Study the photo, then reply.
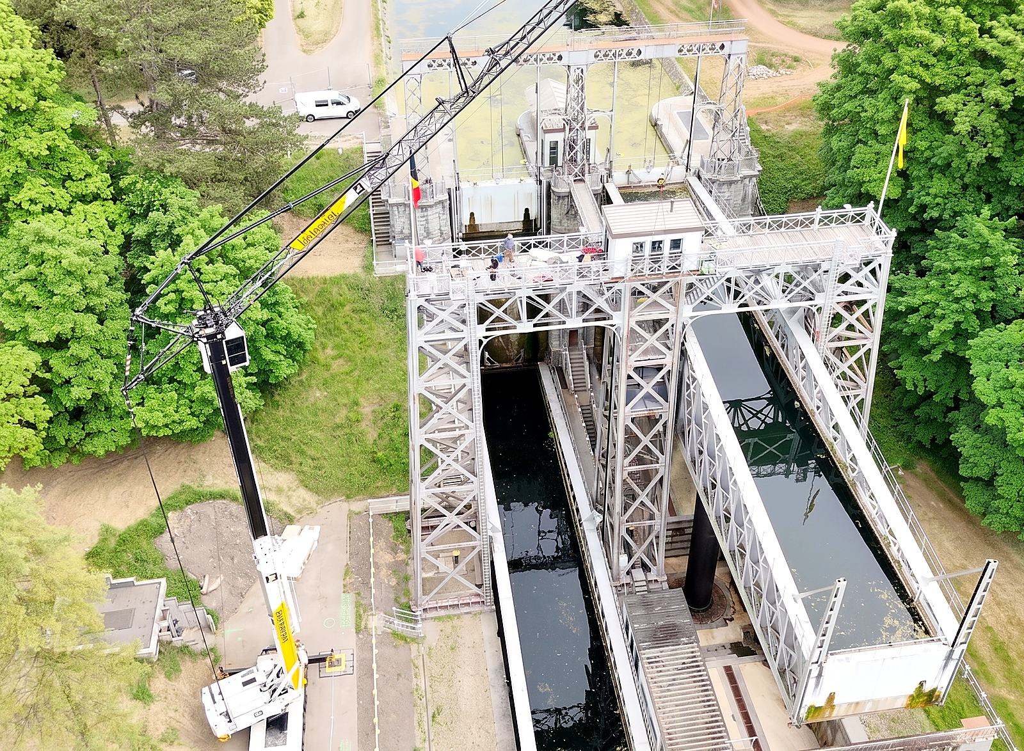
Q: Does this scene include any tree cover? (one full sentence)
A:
Yes, some tree cover is visible.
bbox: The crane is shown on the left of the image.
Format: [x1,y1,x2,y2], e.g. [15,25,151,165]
[120,0,587,751]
